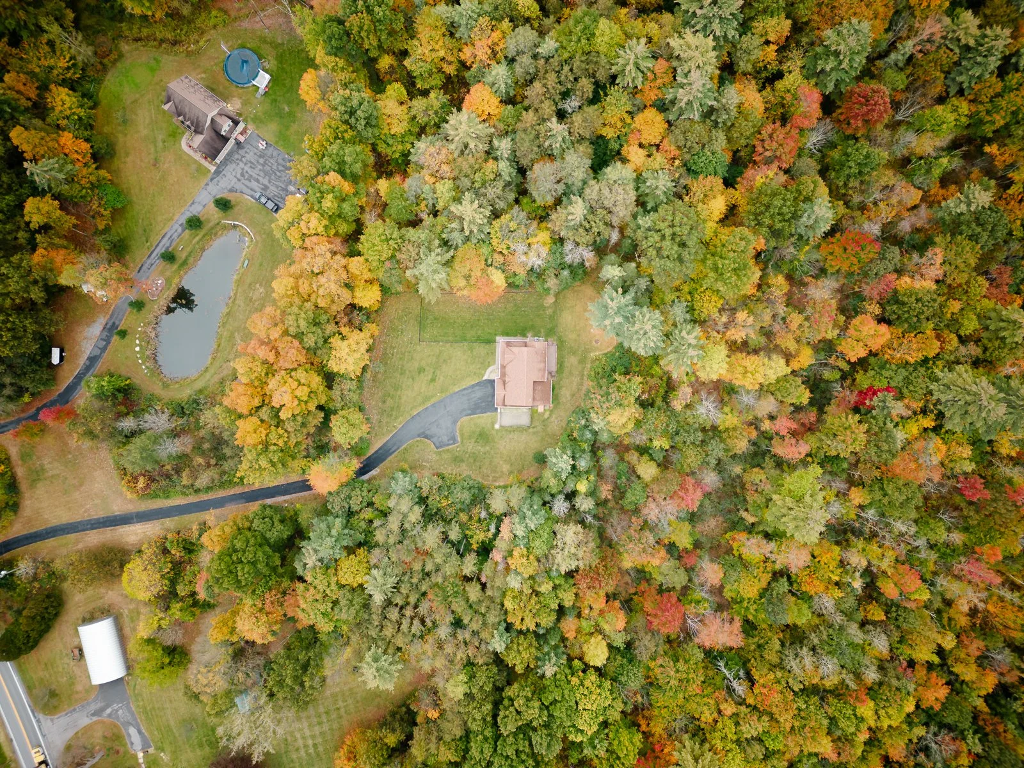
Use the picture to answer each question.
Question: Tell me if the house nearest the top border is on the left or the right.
left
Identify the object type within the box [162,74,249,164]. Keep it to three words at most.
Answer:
house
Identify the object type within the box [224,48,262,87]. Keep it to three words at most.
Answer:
swimming pool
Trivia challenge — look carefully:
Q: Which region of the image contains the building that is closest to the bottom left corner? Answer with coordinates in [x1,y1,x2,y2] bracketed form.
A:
[75,616,128,687]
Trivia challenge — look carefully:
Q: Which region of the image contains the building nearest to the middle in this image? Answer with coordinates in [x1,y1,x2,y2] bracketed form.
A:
[495,339,553,407]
